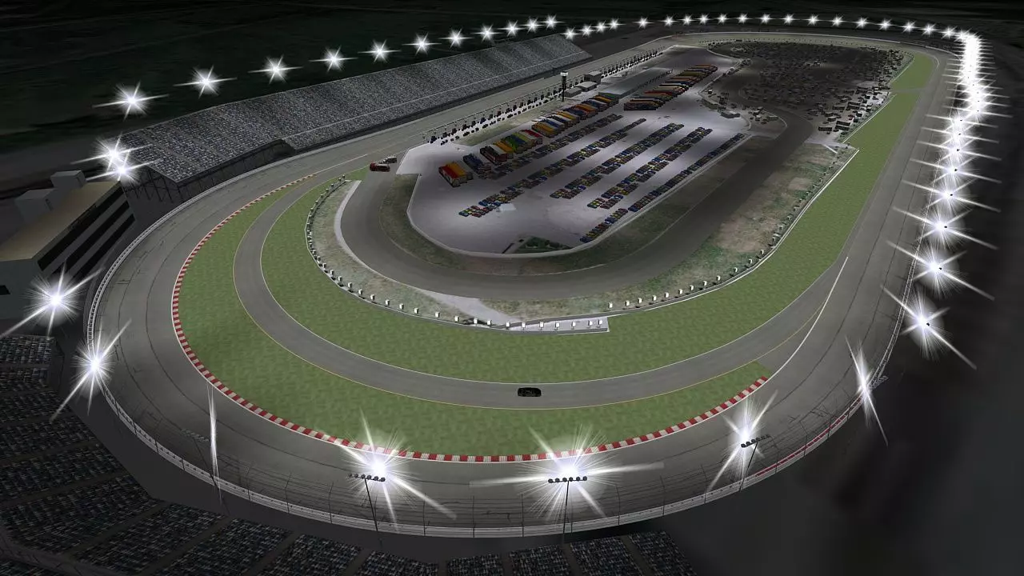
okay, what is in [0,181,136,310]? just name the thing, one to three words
building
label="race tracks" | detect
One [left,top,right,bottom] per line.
[89,33,958,524]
